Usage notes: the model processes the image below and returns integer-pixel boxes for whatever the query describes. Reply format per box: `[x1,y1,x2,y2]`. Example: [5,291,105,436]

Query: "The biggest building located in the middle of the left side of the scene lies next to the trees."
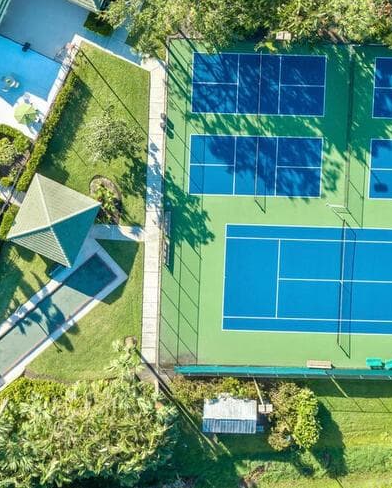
[7,172,101,268]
